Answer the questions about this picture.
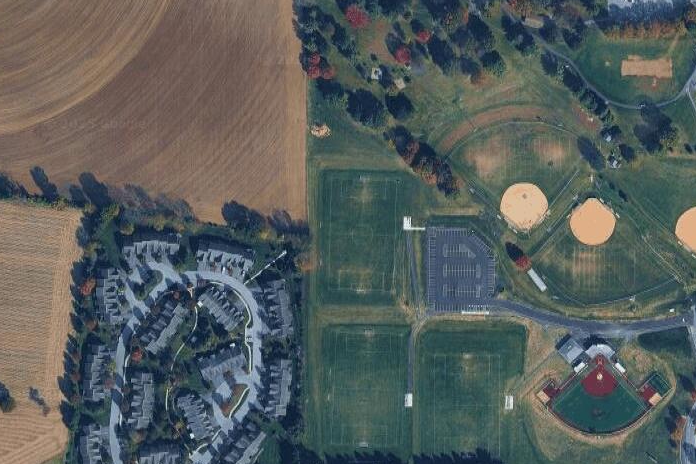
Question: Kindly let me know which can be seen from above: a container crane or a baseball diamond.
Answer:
baseball diamond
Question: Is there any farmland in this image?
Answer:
Yes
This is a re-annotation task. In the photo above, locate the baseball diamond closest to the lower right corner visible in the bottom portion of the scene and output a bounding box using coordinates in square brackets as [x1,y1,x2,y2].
[543,353,659,436]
